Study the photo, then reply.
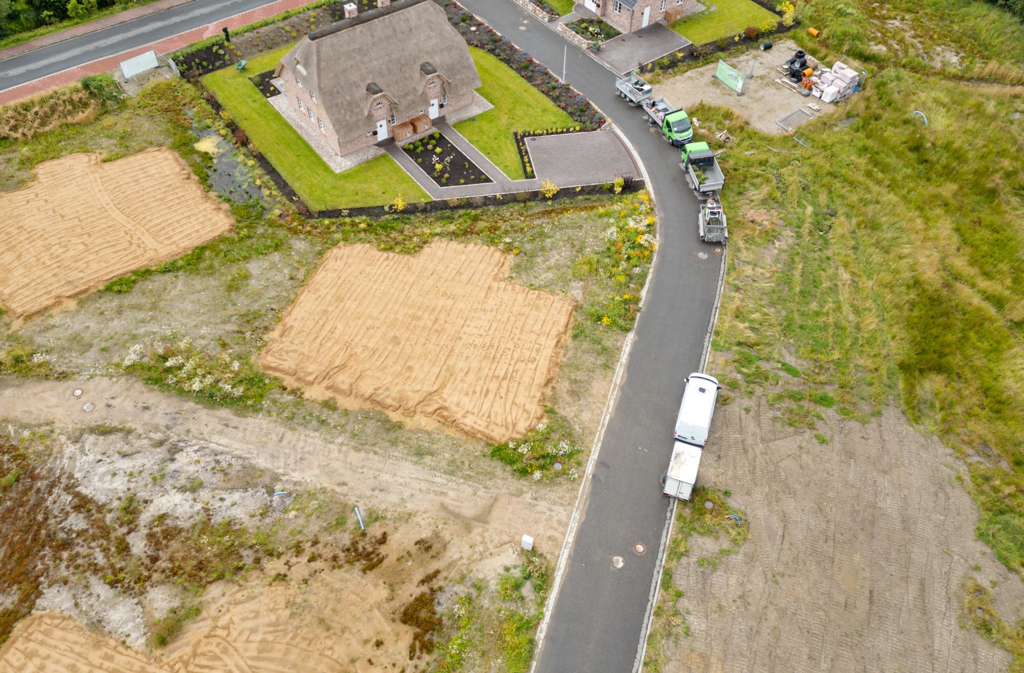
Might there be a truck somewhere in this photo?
Yes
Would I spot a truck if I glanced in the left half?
No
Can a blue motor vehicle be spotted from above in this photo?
No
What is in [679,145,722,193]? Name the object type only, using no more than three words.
truck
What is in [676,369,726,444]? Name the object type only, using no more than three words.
van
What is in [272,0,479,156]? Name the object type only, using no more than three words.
house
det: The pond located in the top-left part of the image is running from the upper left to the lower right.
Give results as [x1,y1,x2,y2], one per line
[190,108,277,205]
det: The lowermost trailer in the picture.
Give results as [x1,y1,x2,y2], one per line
[663,440,703,501]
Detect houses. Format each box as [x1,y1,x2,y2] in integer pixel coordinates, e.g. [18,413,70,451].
[272,0,479,156]
[564,0,693,33]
